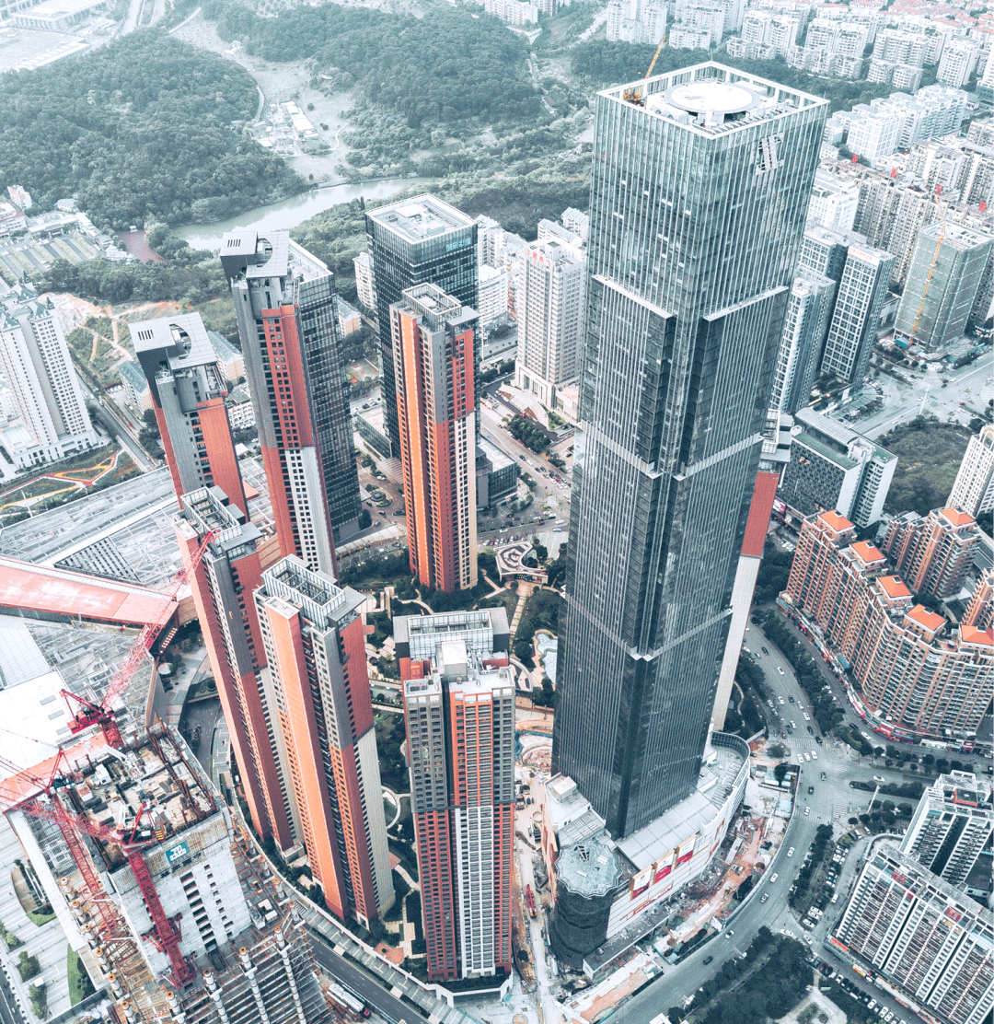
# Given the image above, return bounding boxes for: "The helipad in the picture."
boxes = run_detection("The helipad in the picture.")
[665,82,762,130]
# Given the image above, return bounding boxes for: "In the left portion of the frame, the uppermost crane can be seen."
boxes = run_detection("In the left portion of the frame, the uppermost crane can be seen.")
[89,577,192,762]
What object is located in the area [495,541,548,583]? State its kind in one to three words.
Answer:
building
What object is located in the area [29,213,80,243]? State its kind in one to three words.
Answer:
building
